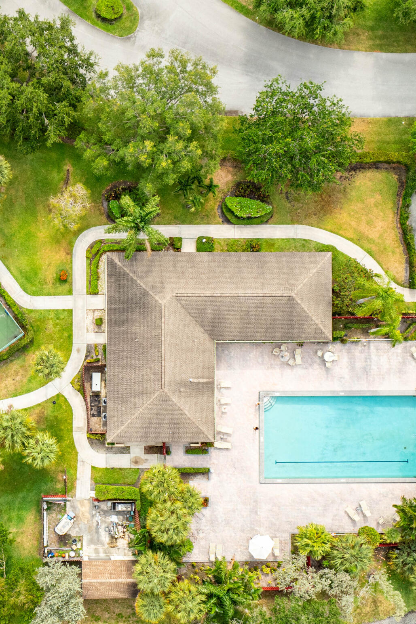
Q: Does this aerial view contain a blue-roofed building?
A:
No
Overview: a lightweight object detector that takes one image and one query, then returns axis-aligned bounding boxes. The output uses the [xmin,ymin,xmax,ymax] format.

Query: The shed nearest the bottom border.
[82,558,140,599]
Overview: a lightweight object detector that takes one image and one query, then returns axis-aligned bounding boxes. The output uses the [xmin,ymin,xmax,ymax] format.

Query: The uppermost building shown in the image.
[105,251,333,443]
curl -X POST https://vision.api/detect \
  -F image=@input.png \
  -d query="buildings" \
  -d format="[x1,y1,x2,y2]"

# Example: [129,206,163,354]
[82,558,140,599]
[105,251,333,443]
